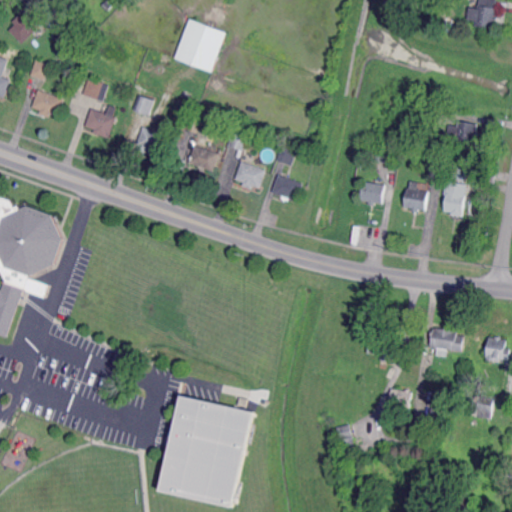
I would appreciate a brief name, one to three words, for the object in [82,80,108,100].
building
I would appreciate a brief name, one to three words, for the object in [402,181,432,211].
house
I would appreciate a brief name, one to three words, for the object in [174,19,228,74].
barn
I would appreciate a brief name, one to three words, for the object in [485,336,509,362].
house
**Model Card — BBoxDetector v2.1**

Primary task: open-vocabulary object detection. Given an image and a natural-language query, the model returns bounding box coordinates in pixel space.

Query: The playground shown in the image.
[1,432,35,472]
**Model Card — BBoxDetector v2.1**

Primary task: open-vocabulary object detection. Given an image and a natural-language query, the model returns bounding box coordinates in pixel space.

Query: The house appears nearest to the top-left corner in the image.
[10,20,34,44]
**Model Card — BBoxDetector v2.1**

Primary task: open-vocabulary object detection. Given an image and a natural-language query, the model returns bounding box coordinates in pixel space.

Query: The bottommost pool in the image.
[260,148,276,164]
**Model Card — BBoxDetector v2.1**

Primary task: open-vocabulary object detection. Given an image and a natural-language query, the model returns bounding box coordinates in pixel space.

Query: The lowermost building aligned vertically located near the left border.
[0,198,62,338]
